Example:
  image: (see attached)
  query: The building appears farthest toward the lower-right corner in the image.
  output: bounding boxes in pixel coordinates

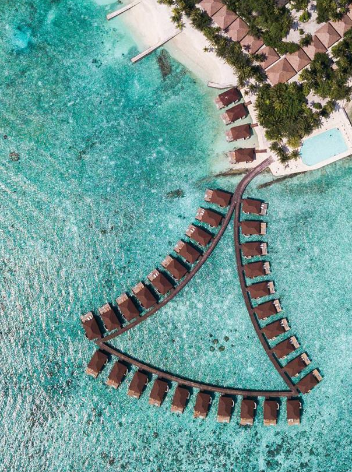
[286,398,303,425]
